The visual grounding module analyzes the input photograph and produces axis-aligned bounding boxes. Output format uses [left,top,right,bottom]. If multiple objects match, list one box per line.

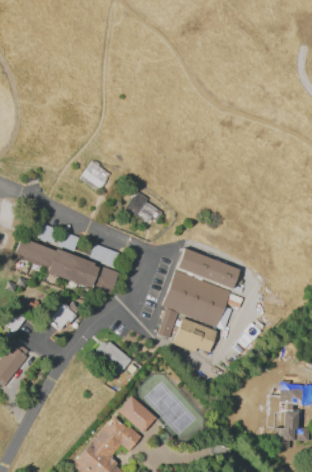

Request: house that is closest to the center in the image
[126,192,163,224]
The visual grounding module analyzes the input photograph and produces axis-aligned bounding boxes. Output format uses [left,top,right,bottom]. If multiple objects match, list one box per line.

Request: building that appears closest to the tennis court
[119,396,157,432]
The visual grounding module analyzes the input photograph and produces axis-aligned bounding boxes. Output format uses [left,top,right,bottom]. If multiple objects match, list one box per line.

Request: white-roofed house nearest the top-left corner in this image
[80,160,110,192]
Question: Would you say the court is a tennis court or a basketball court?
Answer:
tennis court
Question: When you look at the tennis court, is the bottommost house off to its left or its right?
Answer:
left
